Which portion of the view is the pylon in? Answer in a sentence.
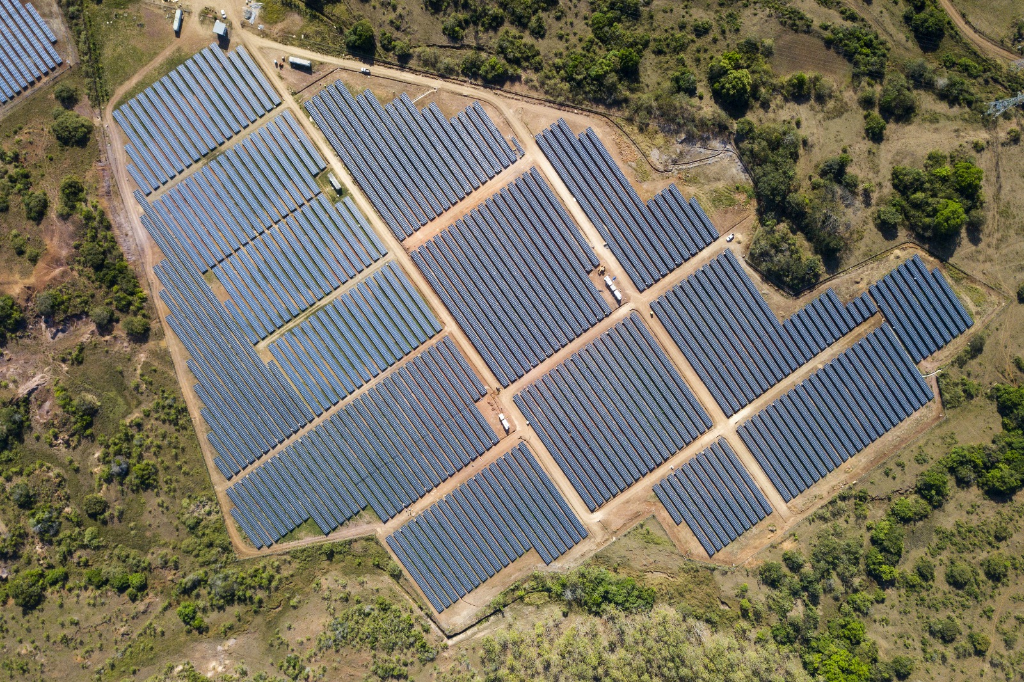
The pylon is located in the top right region of the scene.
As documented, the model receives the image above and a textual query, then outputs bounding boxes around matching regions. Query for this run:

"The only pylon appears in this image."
[981,88,1024,119]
